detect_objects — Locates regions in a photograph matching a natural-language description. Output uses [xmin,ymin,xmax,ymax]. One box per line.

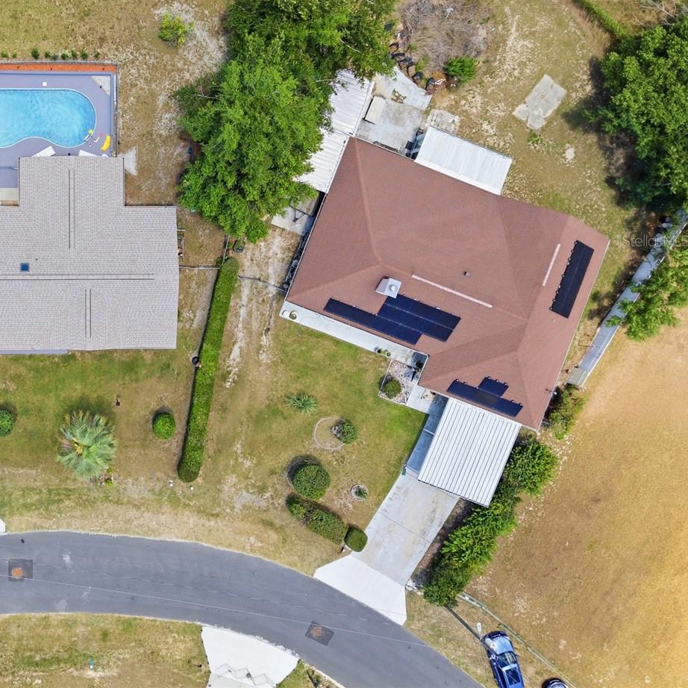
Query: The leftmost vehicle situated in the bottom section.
[489,630,534,688]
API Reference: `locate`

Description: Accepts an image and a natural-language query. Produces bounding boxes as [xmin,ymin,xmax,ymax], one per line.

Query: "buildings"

[0,155,178,353]
[285,138,610,431]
